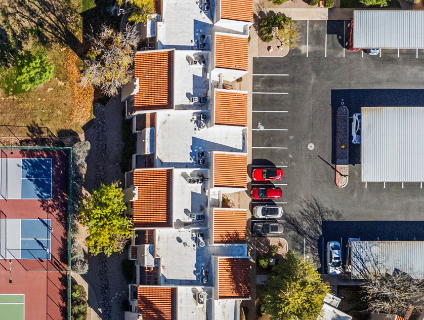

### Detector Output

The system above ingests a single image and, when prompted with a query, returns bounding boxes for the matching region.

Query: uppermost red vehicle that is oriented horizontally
[253,166,286,181]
